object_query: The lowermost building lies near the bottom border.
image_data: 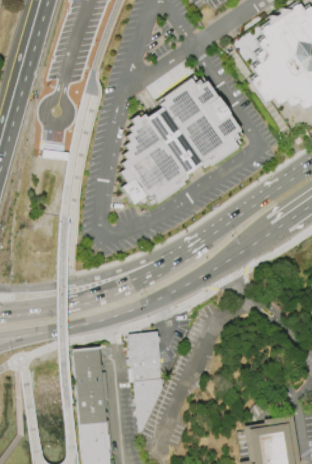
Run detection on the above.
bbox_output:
[237,417,299,464]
